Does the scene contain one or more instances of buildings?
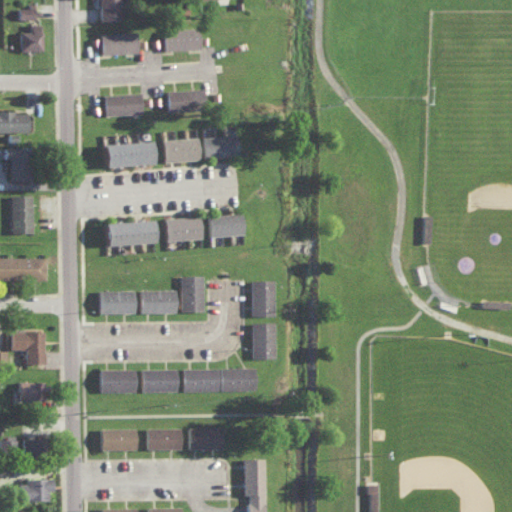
Yes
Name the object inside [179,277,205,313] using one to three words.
building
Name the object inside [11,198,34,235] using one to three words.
house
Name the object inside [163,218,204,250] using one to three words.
building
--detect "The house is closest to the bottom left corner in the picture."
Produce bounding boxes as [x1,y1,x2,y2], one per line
[21,480,55,502]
